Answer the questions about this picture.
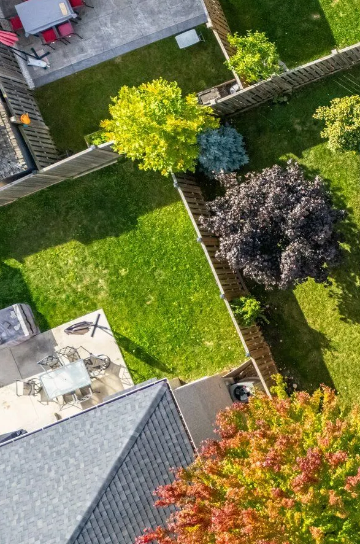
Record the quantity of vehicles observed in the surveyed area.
zero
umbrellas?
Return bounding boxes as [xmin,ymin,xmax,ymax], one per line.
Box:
[0,33,47,62]
[60,313,102,338]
